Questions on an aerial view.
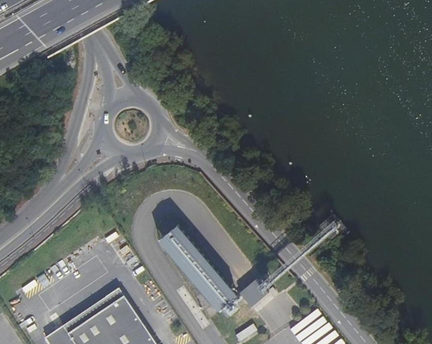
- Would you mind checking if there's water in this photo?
Yes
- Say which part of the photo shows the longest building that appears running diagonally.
bottom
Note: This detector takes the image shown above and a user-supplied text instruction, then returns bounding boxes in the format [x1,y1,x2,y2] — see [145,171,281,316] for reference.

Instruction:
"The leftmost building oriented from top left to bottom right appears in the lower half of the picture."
[158,224,244,318]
